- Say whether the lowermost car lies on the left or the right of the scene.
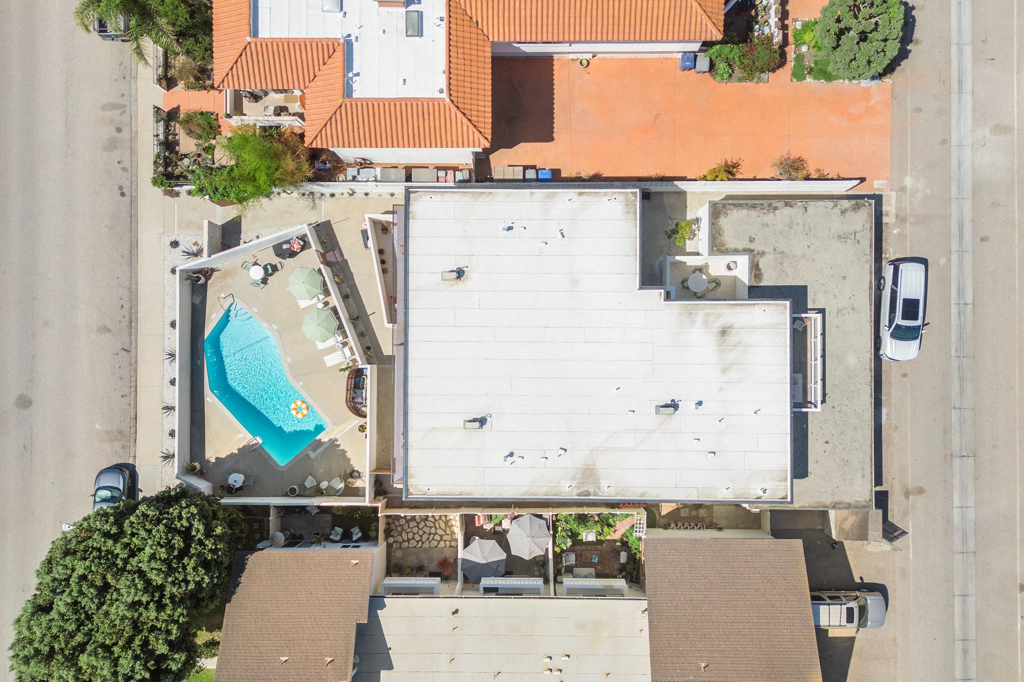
right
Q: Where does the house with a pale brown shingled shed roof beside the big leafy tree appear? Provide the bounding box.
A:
[217,539,374,682]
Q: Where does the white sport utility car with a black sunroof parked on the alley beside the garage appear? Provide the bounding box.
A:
[876,260,932,361]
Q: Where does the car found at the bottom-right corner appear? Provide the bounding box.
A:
[810,589,888,638]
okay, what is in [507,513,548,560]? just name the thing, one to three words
umbrella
